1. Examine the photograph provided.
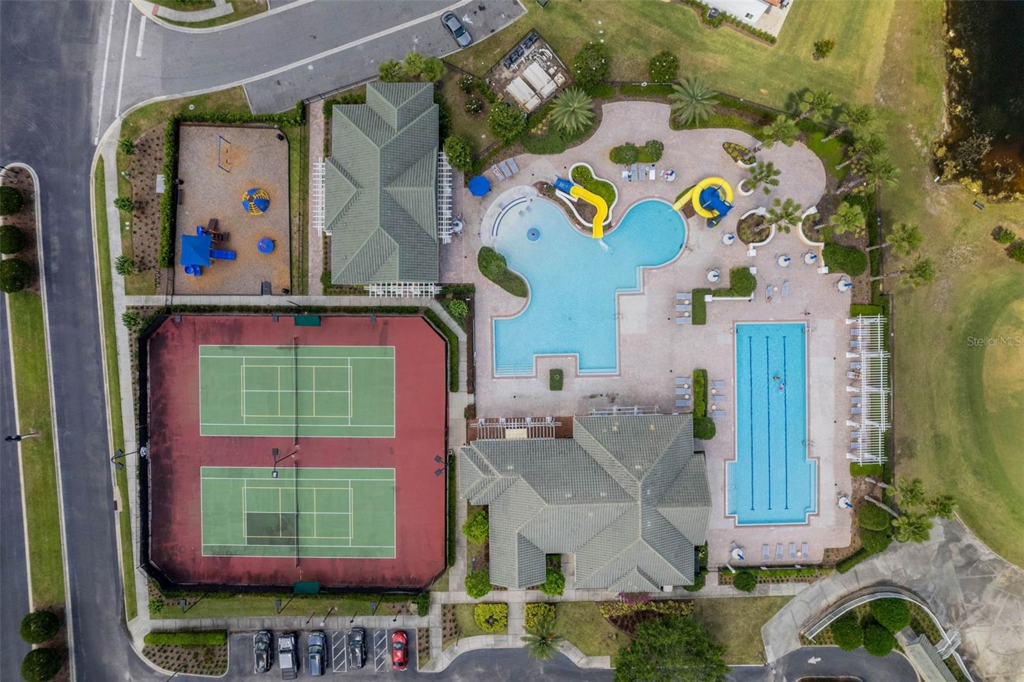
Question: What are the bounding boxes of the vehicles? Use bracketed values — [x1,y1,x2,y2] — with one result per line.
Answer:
[390,630,409,670]
[346,626,367,668]
[306,630,327,674]
[277,630,298,678]
[252,630,274,672]
[441,9,472,50]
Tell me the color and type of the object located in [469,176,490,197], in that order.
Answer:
blue umbrella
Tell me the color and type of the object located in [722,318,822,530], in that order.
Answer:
blue swimming pool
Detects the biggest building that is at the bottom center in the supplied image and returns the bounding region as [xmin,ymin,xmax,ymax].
[459,415,713,592]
